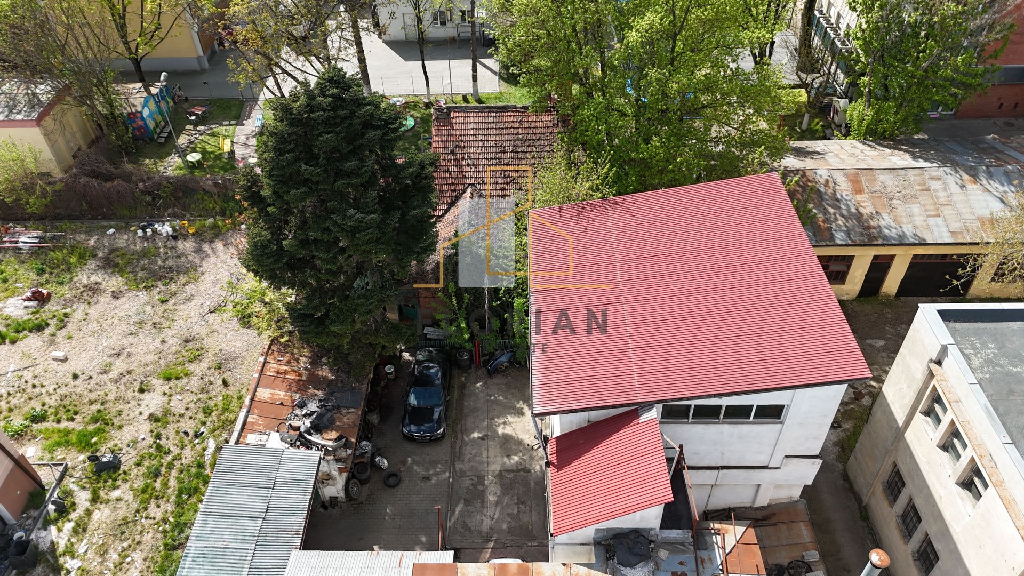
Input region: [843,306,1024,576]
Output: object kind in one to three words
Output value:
building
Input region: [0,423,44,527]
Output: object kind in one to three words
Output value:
building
